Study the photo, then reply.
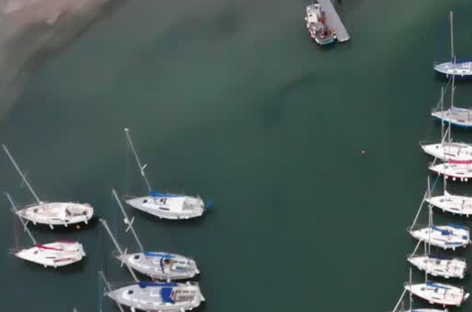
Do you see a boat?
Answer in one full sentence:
Yes, I can see a boat in this picture.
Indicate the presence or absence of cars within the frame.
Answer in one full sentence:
No, the frame has no car in it.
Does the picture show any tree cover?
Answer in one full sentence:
No, there's no tree cover in this view.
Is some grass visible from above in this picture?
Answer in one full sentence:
No, grass can't be seen anywhere here.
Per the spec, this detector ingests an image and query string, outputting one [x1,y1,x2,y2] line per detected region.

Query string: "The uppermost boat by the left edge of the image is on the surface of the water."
[1,144,96,226]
